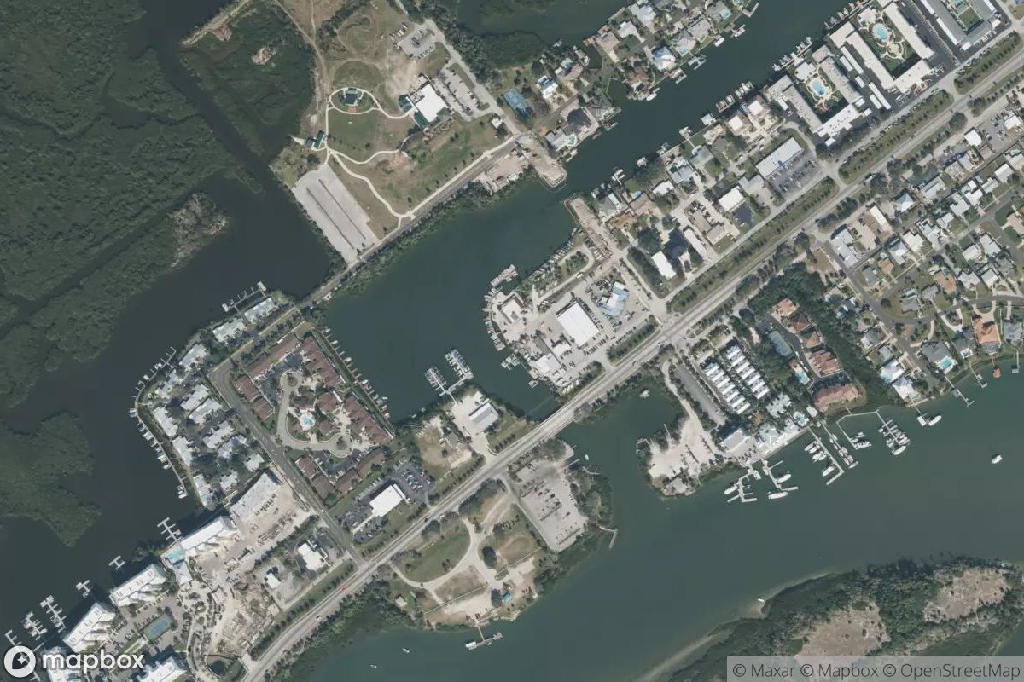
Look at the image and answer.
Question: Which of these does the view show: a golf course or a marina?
marina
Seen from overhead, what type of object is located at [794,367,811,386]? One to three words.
swimming pool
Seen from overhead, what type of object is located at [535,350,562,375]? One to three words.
building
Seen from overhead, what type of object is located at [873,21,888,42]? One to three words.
swimming pool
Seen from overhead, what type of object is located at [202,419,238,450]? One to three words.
house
